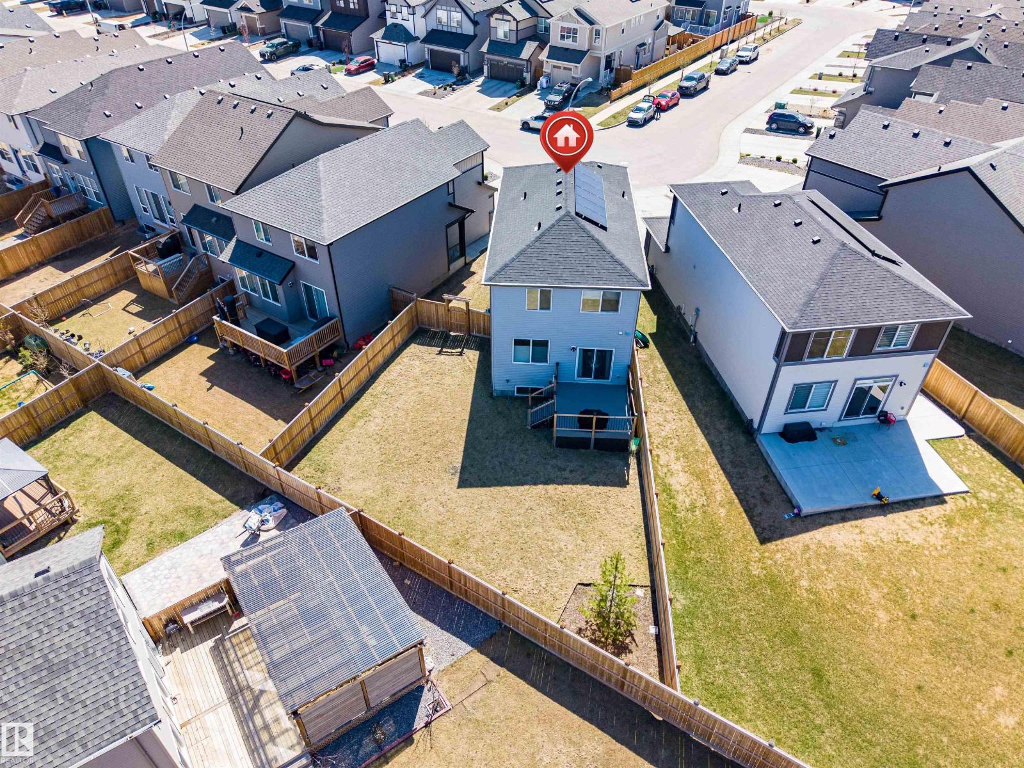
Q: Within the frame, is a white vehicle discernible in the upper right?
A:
Yes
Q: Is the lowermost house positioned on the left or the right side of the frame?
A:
left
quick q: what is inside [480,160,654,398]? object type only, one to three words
house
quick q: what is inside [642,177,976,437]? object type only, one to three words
house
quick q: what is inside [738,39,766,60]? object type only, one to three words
car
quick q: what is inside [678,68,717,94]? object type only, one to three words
truck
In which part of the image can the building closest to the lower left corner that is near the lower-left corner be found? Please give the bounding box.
[0,525,188,768]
